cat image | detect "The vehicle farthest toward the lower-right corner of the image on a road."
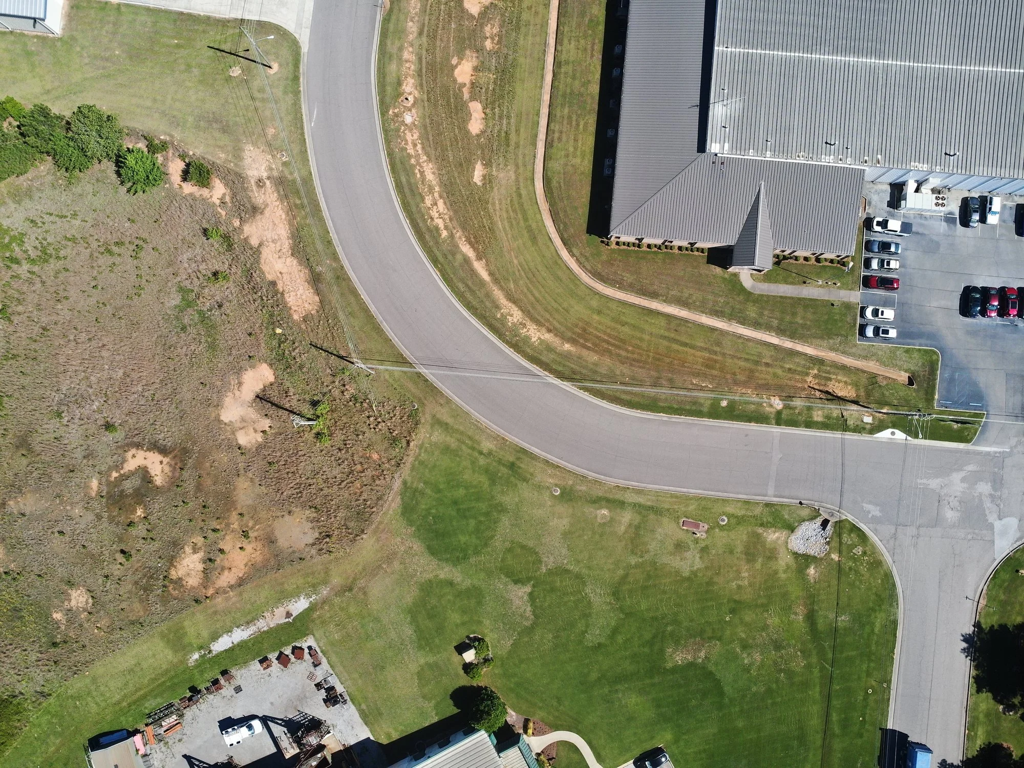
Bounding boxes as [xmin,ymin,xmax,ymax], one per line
[901,736,931,768]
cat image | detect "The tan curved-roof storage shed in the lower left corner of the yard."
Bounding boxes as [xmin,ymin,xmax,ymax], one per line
[90,729,156,768]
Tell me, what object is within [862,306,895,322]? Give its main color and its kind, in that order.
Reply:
white car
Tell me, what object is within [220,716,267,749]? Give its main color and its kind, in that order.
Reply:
white truck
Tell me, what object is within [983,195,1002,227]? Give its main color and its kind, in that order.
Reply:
white car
